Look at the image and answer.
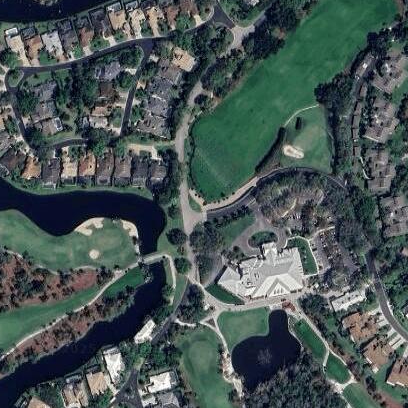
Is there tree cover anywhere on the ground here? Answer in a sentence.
Yes, there is tree cover in the image.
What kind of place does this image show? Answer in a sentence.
This image shows a residential area.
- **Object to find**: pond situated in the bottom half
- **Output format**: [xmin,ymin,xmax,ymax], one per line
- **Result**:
[232,310,302,394]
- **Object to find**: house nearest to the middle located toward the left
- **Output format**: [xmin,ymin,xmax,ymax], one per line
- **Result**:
[150,162,169,185]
